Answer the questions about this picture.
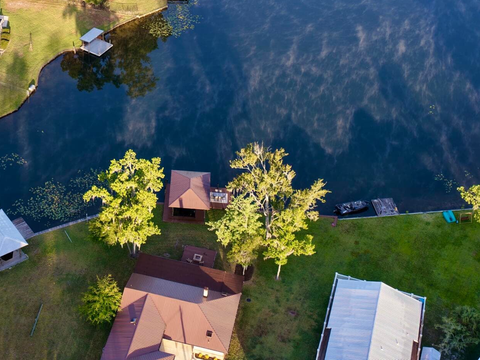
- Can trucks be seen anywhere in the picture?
No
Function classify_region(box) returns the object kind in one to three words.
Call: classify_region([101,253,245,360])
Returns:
house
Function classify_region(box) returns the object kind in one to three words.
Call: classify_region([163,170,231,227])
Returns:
building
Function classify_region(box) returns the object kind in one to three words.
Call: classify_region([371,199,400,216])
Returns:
pier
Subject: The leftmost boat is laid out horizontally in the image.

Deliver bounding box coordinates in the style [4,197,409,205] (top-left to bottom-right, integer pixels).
[335,200,367,213]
